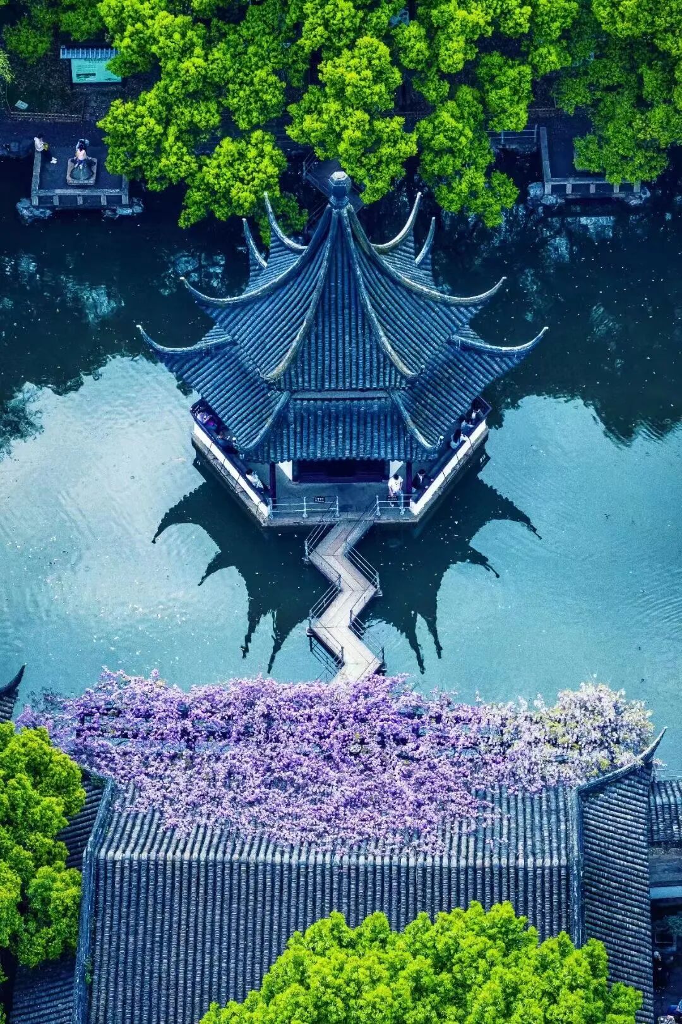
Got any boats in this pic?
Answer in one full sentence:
No, no boat is visible in the view.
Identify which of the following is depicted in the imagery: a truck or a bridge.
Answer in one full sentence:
Visible in the photo is a bridge.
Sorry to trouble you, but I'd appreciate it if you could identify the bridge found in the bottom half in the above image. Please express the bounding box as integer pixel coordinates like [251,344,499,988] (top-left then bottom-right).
[304,515,386,746]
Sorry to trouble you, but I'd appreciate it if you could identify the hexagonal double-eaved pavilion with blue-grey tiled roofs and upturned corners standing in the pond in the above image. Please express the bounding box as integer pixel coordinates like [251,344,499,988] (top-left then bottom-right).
[135,171,541,524]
